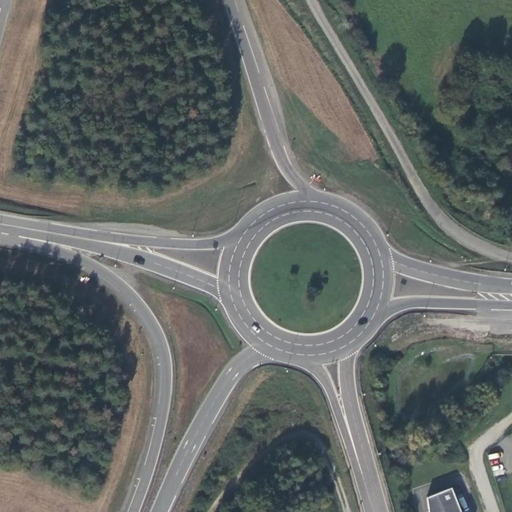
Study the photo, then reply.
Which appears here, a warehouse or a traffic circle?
traffic circle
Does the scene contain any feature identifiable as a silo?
No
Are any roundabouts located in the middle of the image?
Yes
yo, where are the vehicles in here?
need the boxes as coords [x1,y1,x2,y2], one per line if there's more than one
[492,465,504,471]
[251,324,261,333]
[488,453,502,460]
[357,317,368,326]
[494,470,505,476]
[496,476,506,481]
[490,460,500,465]
[460,497,468,510]
[134,257,144,264]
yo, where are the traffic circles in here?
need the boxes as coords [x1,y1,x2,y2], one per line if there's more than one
[218,186,396,368]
